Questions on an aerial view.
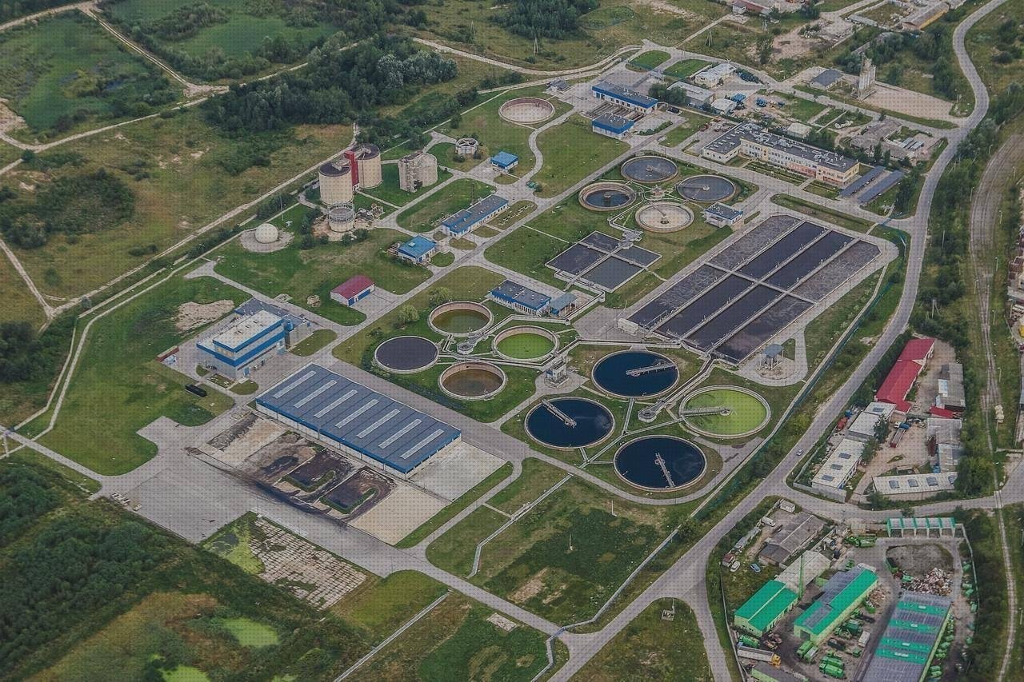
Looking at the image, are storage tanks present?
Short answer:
Yes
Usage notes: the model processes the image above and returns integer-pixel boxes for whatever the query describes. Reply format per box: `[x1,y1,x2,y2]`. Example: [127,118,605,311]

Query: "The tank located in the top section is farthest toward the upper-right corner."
[676,175,735,204]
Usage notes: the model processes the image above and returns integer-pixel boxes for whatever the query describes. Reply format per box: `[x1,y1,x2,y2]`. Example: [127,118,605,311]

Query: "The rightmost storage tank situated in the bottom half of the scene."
[679,386,772,441]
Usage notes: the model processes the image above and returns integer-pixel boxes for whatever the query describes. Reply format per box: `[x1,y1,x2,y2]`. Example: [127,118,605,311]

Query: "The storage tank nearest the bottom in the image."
[613,435,707,493]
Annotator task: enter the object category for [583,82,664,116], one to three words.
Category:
house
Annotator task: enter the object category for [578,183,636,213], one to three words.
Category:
storage tank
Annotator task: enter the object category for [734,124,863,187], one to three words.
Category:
building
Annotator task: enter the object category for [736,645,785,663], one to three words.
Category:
vehicle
